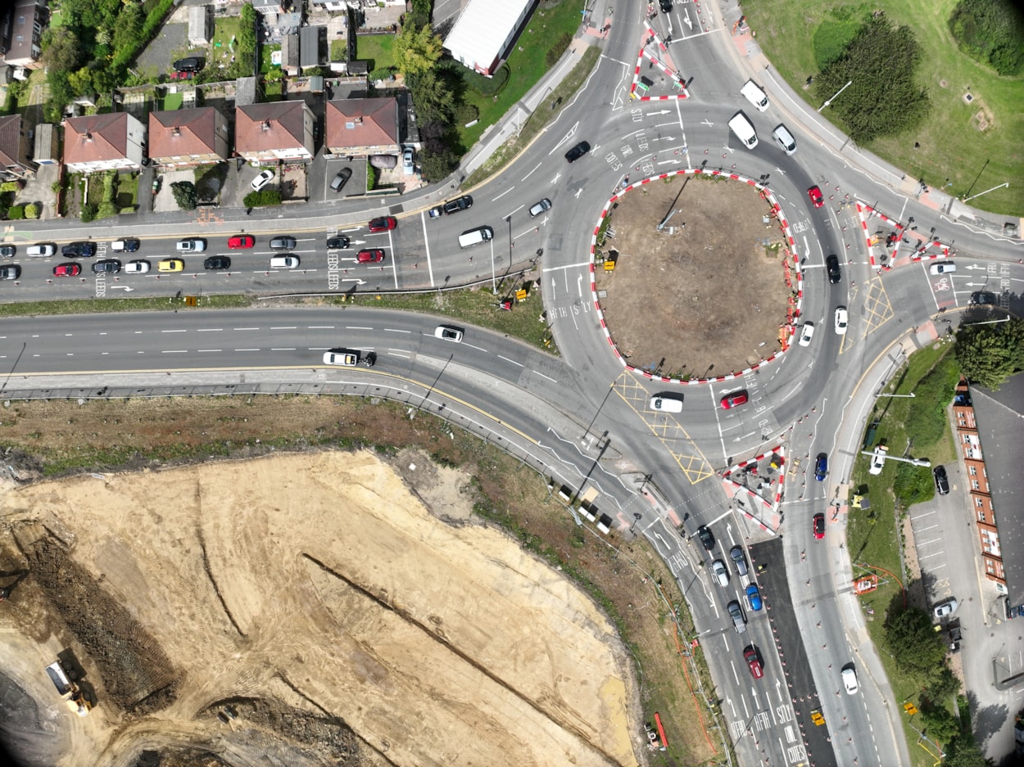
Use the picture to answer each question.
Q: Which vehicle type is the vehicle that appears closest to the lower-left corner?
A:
truck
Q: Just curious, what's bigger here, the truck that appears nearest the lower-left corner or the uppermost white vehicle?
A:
the truck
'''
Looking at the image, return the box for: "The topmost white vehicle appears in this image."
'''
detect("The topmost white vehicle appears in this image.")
[741,77,768,111]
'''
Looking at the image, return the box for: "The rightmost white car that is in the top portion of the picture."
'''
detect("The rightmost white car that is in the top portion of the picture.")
[928,261,956,275]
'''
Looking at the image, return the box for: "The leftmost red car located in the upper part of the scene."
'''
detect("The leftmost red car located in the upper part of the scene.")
[54,263,81,277]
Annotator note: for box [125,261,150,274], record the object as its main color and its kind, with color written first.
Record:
white vehicle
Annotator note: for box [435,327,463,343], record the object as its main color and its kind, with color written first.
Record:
white car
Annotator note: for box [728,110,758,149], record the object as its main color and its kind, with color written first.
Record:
white van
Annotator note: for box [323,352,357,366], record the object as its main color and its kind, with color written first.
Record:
white vehicle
